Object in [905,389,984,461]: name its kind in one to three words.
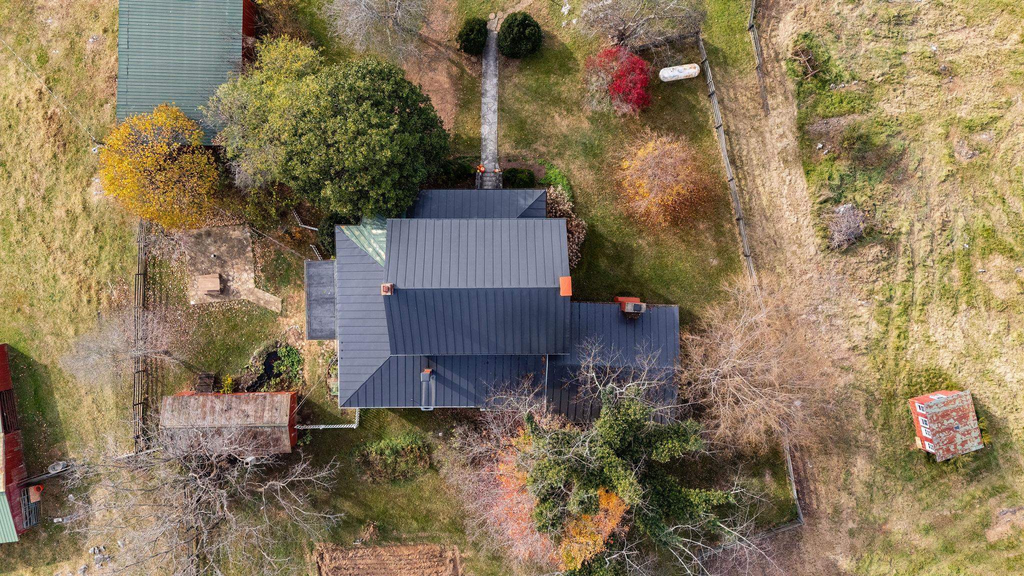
shed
